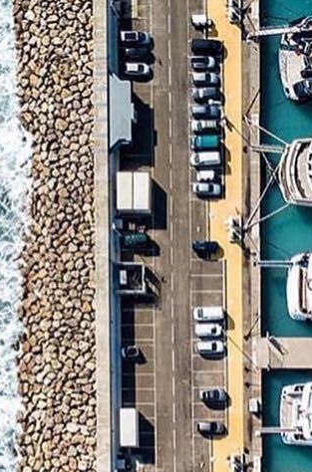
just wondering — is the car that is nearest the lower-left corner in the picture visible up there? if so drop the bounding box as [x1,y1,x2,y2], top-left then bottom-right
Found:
[123,344,142,357]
